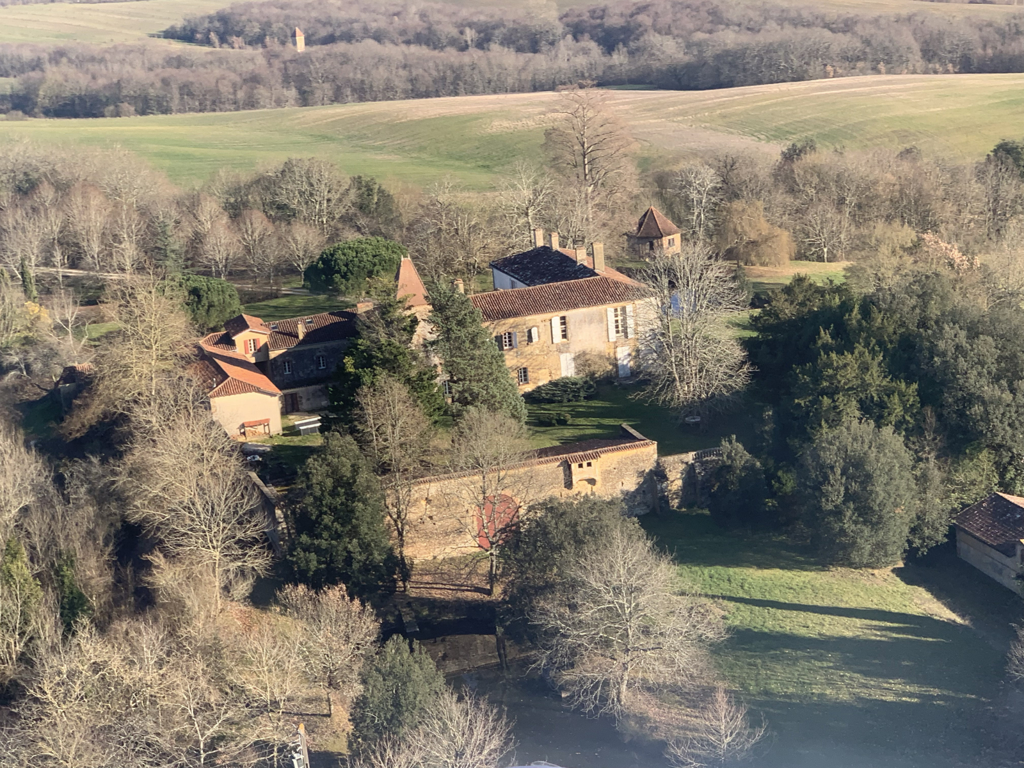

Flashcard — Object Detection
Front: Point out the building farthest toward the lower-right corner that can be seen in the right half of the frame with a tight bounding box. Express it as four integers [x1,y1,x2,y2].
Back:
[952,485,1024,585]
